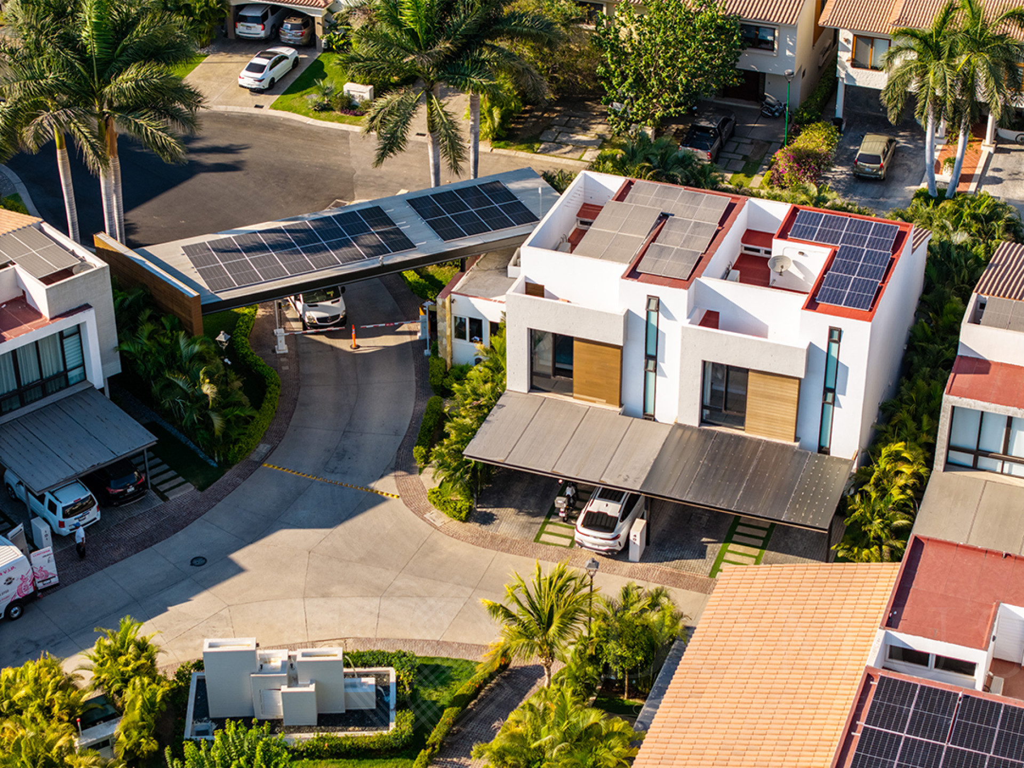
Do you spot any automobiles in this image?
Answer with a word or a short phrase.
Yes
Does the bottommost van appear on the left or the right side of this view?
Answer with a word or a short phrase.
left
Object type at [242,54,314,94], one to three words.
car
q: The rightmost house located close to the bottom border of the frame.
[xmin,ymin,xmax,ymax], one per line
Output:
[607,534,1024,768]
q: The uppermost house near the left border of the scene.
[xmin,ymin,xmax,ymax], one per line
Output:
[0,174,158,515]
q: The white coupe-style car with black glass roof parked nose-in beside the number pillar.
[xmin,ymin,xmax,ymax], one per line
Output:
[578,490,665,553]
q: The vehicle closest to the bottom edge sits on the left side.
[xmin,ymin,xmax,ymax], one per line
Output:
[0,537,56,633]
